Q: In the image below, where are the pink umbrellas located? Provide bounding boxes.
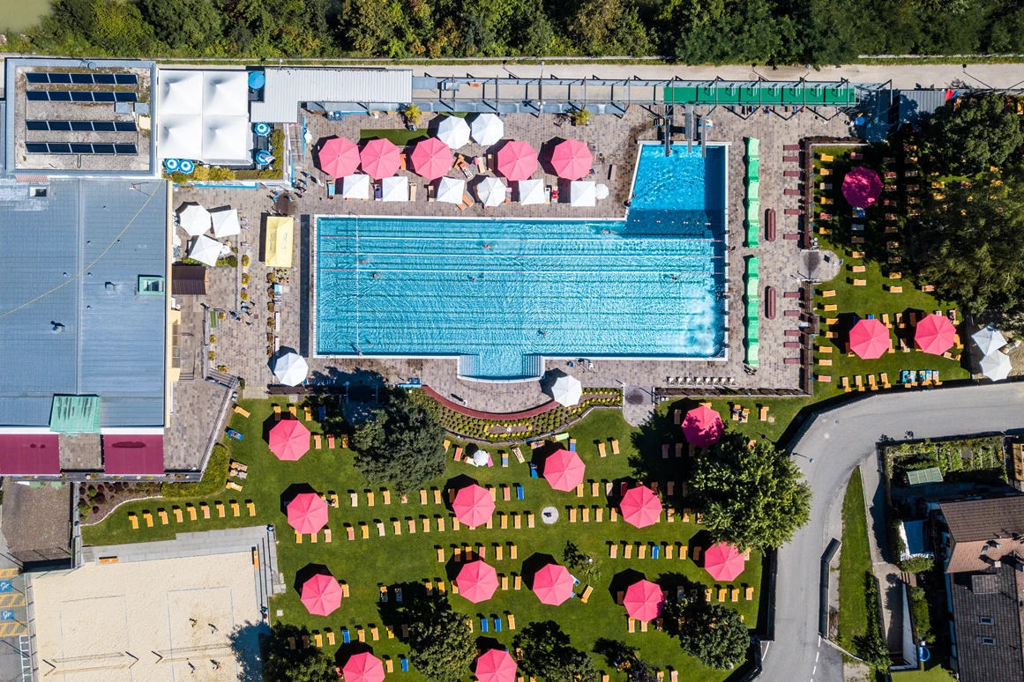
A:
[498,140,537,180]
[839,167,881,209]
[411,138,453,180]
[621,486,663,528]
[477,651,516,682]
[702,539,743,581]
[271,420,310,459]
[623,579,666,621]
[453,484,495,526]
[288,493,328,533]
[532,563,574,605]
[359,138,401,180]
[344,652,385,682]
[319,137,361,179]
[302,574,343,616]
[543,449,585,491]
[456,559,498,601]
[551,138,593,180]
[681,404,723,446]
[847,319,887,359]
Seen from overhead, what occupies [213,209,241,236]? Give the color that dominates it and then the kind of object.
white umbrella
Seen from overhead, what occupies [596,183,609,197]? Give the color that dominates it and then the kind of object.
white umbrella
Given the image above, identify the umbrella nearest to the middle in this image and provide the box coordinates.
[550,375,582,406]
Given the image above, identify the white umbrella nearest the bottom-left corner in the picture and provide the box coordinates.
[275,350,310,385]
